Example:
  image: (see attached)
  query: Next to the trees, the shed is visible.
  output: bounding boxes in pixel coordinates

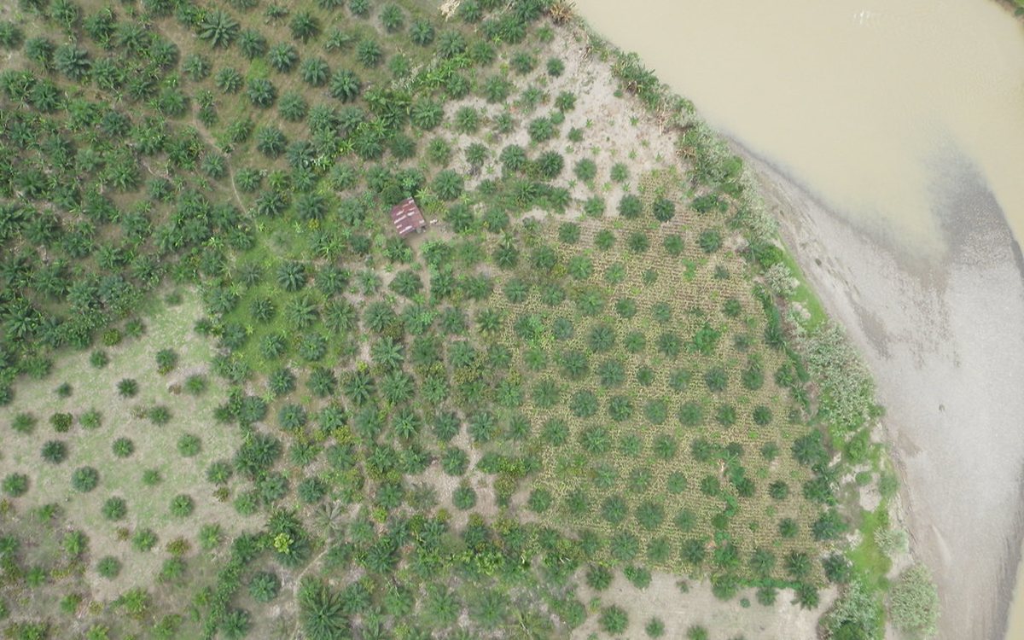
[390,197,427,237]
